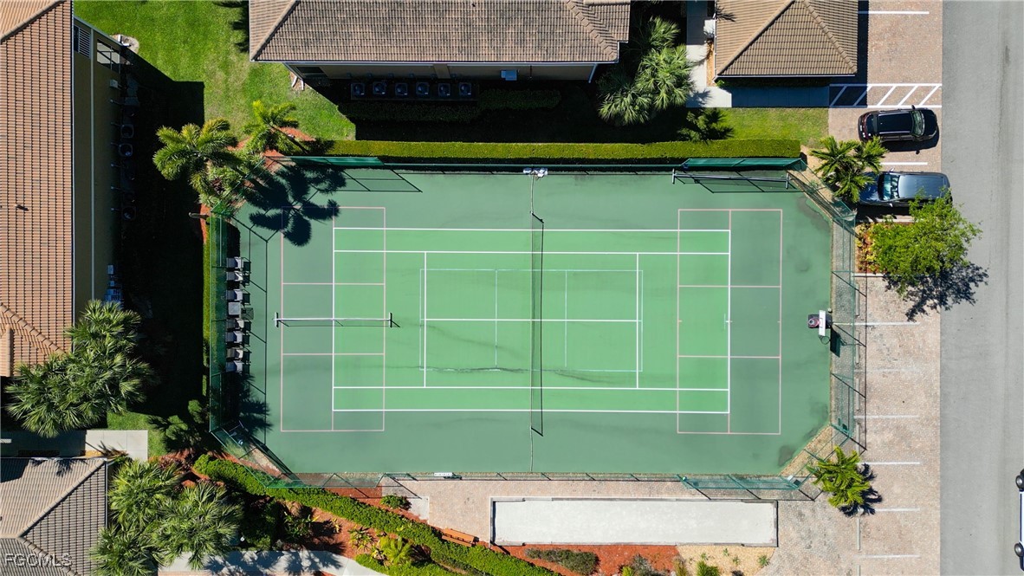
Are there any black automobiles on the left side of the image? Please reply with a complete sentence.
No, looking on the left side of the image, there is no black automobile.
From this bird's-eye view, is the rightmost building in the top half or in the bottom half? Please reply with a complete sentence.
You can find the rightmost building in the top half.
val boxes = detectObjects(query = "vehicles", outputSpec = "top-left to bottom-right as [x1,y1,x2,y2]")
[855,167,950,210]
[1014,470,1024,576]
[853,105,936,146]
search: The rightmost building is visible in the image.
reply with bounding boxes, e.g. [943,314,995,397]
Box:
[712,0,861,80]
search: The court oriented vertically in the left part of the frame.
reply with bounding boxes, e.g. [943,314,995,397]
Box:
[280,207,385,431]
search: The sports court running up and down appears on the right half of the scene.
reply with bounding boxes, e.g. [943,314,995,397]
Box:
[677,209,783,434]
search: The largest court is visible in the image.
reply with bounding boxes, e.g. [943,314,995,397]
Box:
[227,166,832,475]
